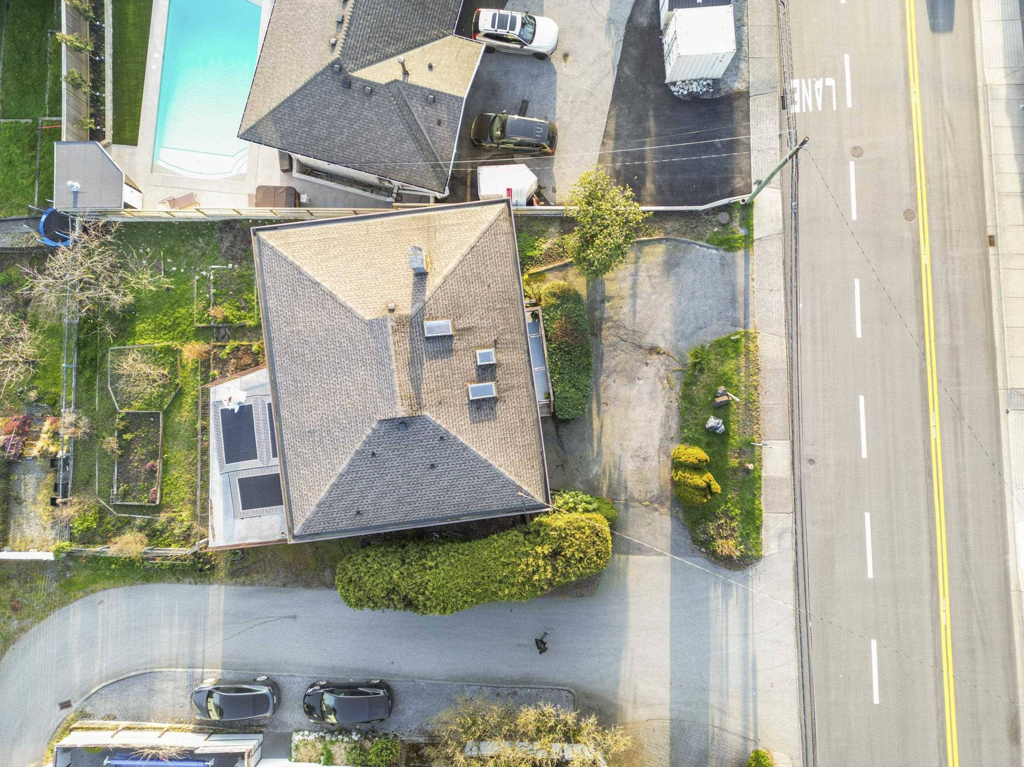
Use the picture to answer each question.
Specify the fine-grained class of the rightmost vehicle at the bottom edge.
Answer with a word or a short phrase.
automobile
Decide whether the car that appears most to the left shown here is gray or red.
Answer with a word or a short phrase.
gray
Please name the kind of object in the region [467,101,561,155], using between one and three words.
car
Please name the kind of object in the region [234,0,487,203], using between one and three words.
house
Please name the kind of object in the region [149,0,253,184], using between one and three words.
swimming pool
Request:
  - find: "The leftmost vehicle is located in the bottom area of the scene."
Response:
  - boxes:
[189,679,274,728]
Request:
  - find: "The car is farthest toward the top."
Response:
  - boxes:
[468,1,563,59]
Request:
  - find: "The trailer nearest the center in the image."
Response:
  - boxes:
[477,164,552,207]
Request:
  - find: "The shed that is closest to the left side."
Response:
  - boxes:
[53,141,144,211]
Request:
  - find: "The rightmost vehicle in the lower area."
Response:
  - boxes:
[302,682,386,731]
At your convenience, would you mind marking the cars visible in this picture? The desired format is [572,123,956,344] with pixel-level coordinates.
[468,1,563,59]
[302,682,386,731]
[189,679,274,728]
[467,101,561,155]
